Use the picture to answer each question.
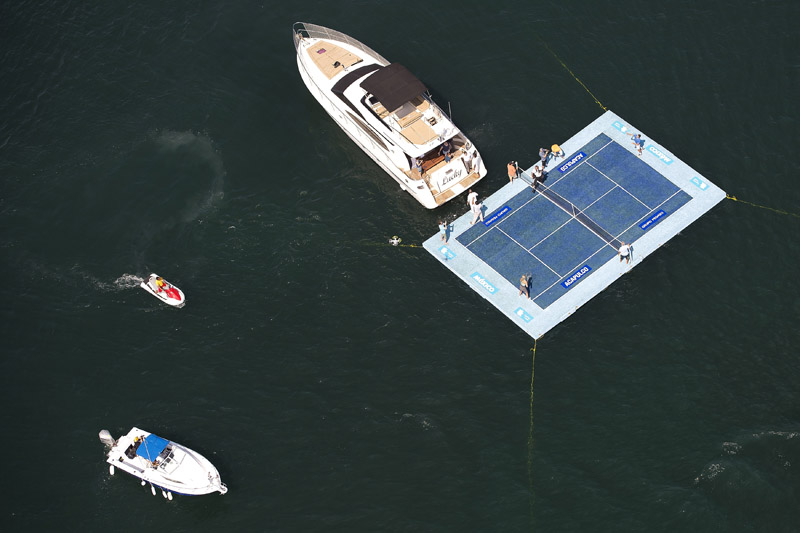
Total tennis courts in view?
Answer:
one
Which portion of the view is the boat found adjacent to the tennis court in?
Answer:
top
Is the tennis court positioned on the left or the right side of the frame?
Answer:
right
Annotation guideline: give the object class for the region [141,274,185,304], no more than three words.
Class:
boat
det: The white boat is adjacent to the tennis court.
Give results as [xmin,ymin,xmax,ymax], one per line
[290,23,488,210]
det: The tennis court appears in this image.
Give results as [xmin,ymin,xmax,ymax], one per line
[423,110,727,339]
